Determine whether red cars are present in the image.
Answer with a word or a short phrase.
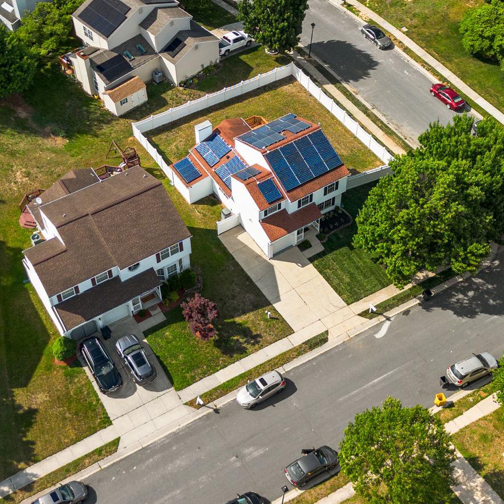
Yes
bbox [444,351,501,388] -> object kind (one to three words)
car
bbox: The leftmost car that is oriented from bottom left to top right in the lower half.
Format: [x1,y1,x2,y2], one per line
[235,367,288,409]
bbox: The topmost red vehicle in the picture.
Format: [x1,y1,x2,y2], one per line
[429,83,469,111]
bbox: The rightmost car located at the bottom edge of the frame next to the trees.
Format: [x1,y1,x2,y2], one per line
[281,445,343,490]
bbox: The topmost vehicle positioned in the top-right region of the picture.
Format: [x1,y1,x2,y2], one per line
[358,25,395,49]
